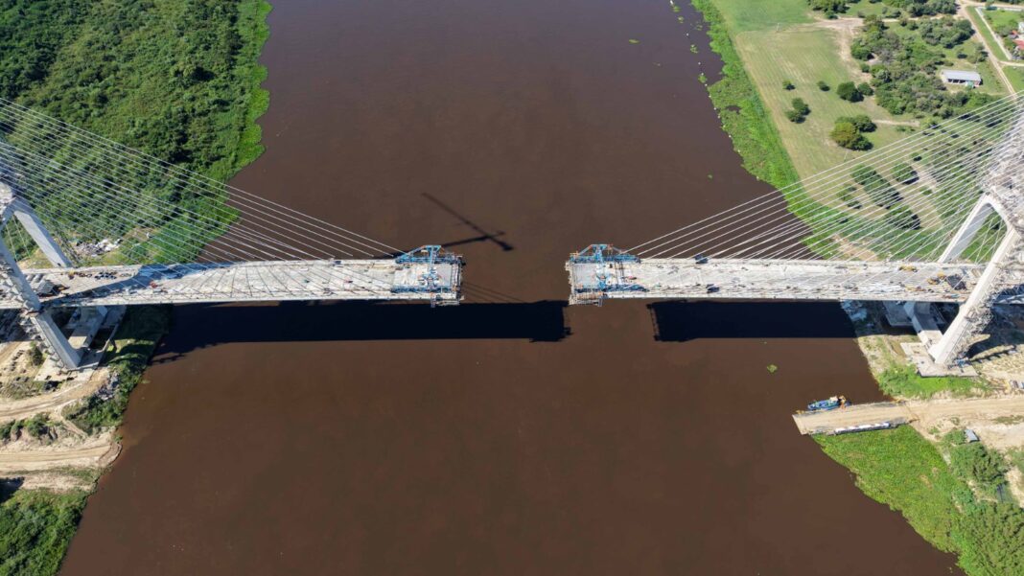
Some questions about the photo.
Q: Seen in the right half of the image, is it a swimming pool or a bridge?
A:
bridge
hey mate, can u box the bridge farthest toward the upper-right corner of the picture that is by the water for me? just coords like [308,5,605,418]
[581,90,1024,386]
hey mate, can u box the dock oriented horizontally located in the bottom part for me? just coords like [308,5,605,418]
[791,399,910,439]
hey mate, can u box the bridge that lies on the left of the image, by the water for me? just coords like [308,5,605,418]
[0,111,452,387]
